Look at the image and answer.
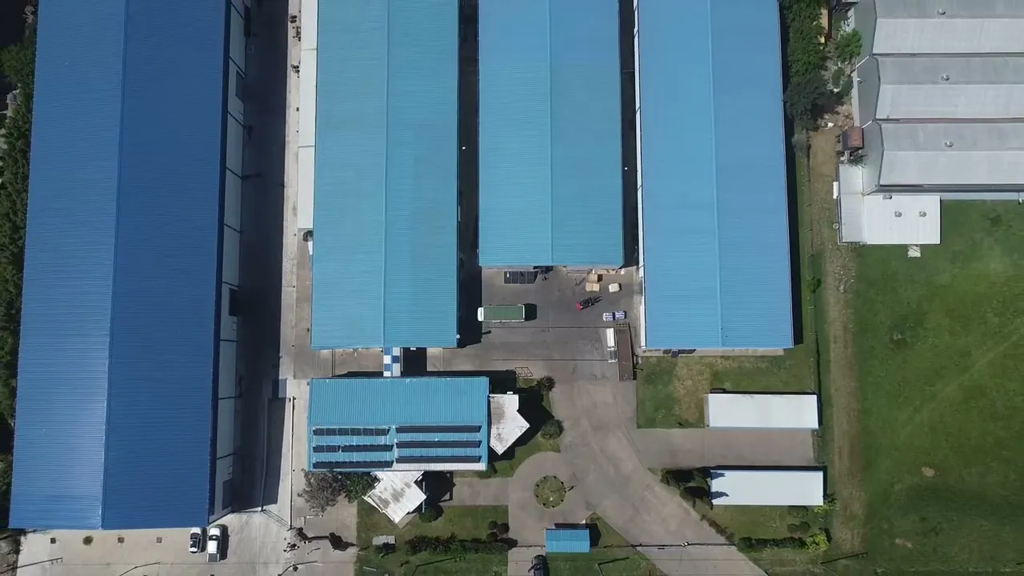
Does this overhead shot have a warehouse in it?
Yes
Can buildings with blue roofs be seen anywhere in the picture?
Yes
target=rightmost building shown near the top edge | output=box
[854,0,1024,209]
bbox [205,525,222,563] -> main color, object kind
white vehicle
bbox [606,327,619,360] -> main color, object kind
white vehicle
